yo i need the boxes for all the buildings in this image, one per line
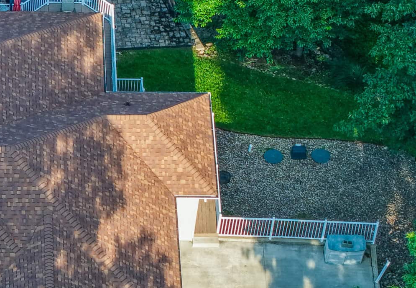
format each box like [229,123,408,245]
[0,7,223,288]
[326,228,370,262]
